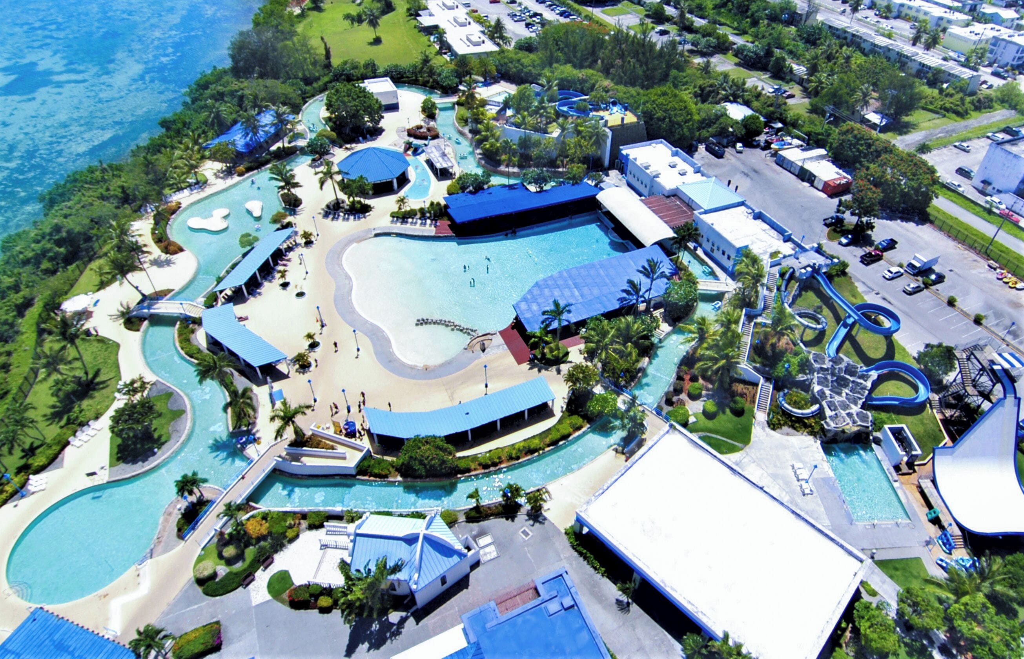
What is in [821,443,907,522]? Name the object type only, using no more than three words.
swimming pool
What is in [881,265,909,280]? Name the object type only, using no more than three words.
car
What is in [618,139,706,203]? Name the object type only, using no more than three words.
house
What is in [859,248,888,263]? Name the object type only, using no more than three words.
vehicle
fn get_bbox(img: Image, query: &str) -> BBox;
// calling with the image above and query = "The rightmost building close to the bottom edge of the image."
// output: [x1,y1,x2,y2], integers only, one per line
[562,428,871,659]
